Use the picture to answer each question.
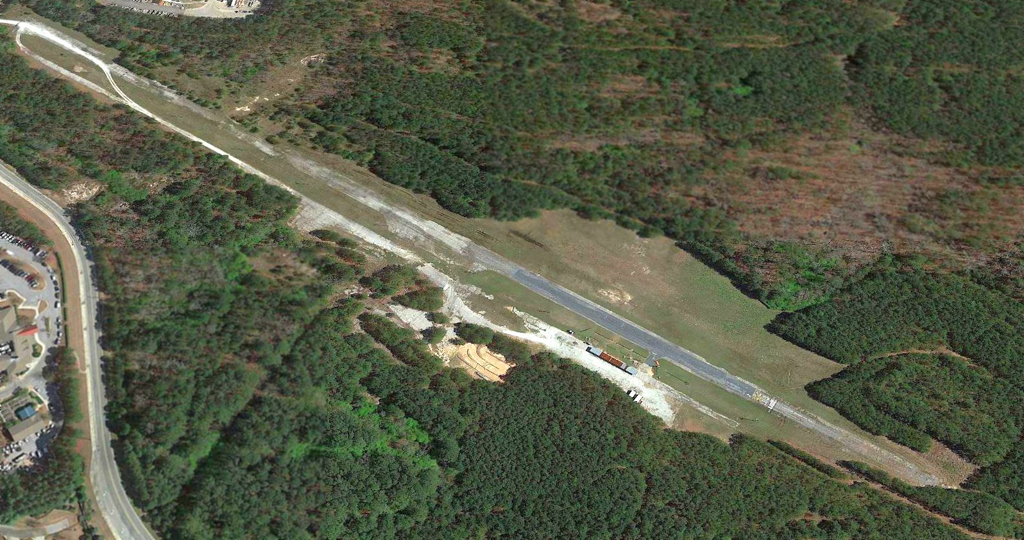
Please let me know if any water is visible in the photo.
No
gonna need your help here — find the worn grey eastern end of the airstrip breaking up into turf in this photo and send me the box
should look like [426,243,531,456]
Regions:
[746,389,941,487]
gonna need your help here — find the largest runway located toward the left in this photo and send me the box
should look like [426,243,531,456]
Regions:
[282,151,516,276]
